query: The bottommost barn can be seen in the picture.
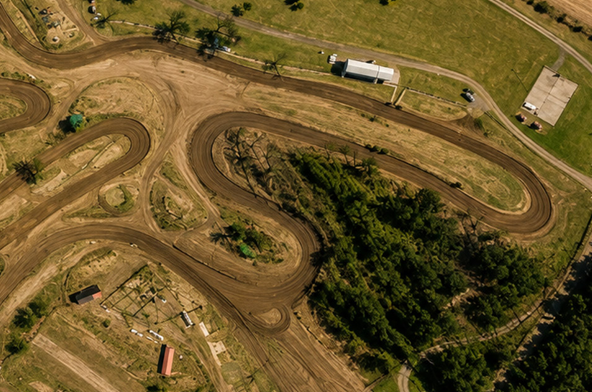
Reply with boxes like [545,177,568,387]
[161,343,174,376]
